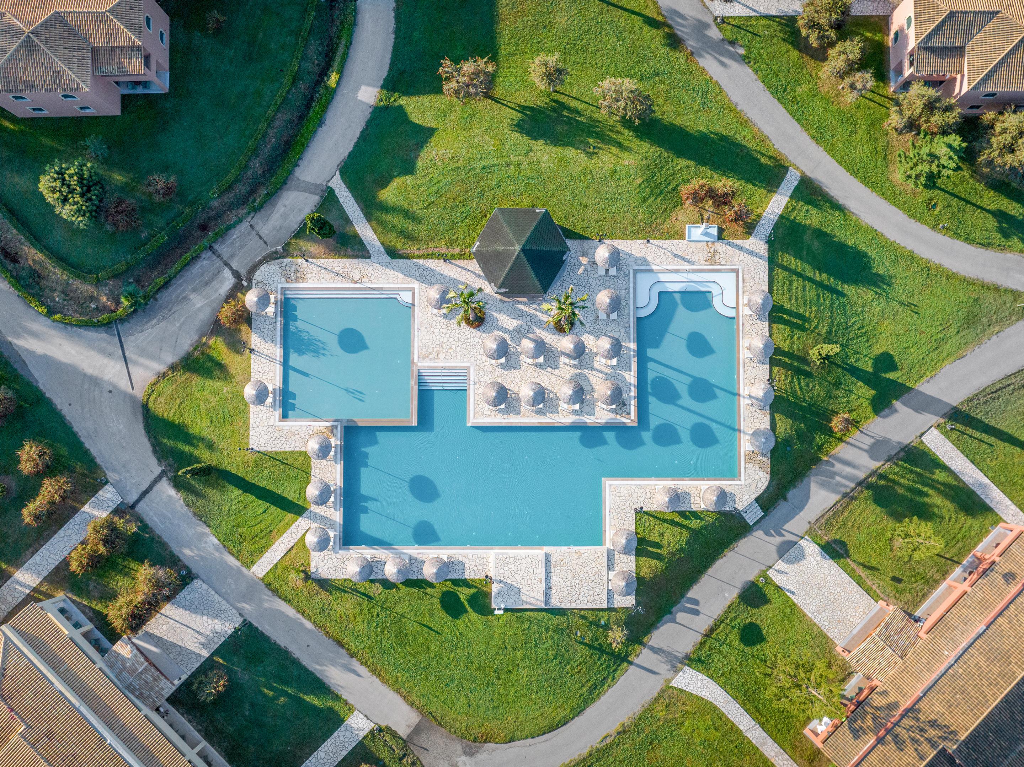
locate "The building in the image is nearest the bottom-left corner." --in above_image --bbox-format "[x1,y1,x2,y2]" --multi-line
[0,595,227,767]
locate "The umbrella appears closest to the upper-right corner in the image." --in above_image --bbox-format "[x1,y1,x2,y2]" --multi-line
[746,289,771,314]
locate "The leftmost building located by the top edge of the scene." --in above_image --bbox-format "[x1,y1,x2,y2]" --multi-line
[0,0,171,114]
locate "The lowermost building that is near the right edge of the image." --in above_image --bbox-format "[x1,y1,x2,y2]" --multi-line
[803,509,1024,767]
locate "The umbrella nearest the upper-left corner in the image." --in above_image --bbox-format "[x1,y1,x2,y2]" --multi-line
[246,288,271,313]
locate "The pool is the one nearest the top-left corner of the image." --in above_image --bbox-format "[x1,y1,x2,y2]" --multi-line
[276,282,418,426]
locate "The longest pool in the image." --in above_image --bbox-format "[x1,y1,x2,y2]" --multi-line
[337,265,744,554]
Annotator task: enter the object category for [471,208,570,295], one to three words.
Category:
gazebo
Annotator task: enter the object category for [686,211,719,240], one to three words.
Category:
fountain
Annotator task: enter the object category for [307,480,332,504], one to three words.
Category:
umbrella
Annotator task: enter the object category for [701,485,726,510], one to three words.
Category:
umbrella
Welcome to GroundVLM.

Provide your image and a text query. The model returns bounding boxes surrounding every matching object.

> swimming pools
[276,282,418,426]
[337,265,744,554]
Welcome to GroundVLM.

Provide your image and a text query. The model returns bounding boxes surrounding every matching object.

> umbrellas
[701,485,726,510]
[611,569,636,594]
[558,380,583,405]
[519,380,544,405]
[306,526,331,551]
[596,335,621,360]
[746,289,771,314]
[654,486,679,511]
[747,334,772,358]
[307,434,332,459]
[385,556,410,581]
[521,334,545,359]
[596,380,621,405]
[424,556,448,581]
[244,381,269,406]
[559,334,584,359]
[594,243,619,268]
[747,382,772,407]
[246,288,271,313]
[483,334,508,359]
[611,528,636,553]
[427,285,451,310]
[482,381,508,406]
[307,480,332,504]
[595,289,620,314]
[348,556,373,581]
